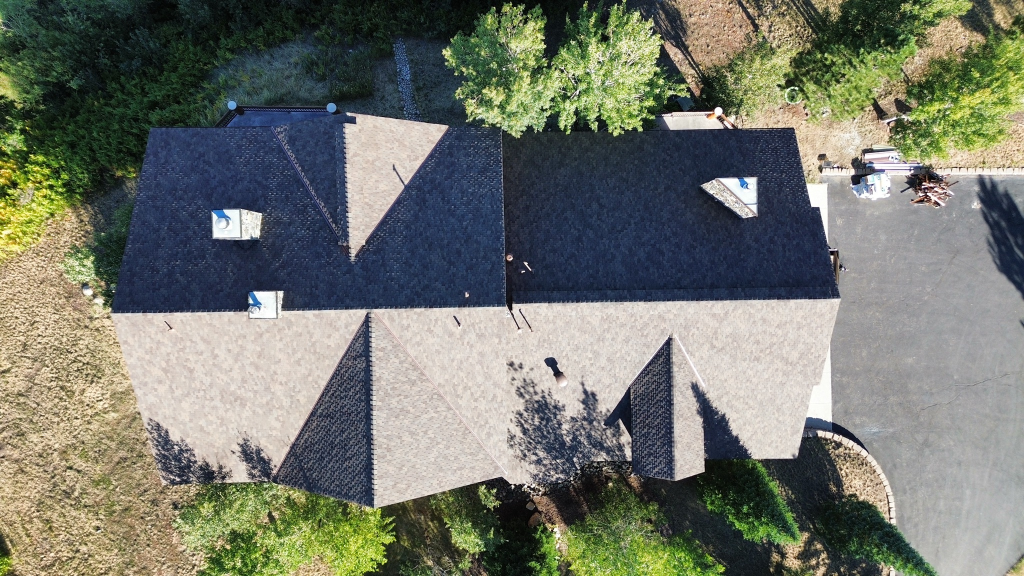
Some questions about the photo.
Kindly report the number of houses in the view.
1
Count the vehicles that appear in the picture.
0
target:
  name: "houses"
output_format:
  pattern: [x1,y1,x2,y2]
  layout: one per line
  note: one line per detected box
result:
[110,111,848,508]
